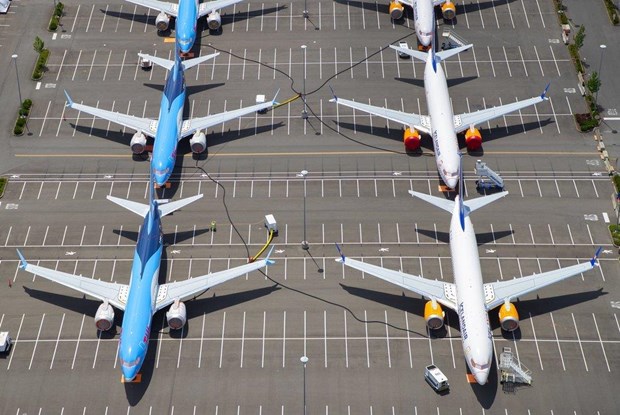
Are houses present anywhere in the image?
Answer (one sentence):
No, I can see no house in this picture.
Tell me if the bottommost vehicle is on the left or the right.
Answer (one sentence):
The bottommost vehicle appears in the right half of the scene.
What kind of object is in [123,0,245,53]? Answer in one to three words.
airplane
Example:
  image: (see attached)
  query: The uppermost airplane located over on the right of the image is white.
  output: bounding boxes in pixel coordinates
[389,0,455,46]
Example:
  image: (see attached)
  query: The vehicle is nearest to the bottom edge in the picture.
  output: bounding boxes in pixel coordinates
[427,367,452,391]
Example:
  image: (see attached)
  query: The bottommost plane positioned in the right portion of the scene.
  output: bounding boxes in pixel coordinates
[334,150,601,385]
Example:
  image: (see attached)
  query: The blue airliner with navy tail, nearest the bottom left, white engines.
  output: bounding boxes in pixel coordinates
[18,154,275,380]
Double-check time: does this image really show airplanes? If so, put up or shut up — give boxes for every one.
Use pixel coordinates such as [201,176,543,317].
[123,0,245,53]
[389,0,455,46]
[18,154,275,380]
[334,150,601,385]
[64,17,280,187]
[328,11,550,186]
